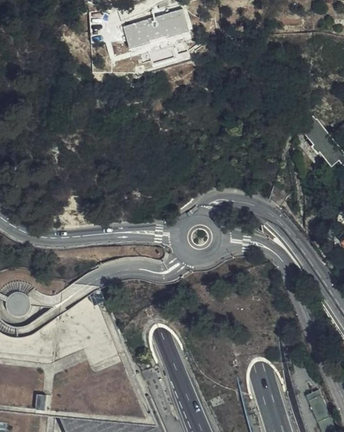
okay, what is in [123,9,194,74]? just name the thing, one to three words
house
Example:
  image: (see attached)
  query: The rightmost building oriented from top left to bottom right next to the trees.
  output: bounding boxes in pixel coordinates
[304,117,344,168]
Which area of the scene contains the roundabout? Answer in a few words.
center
